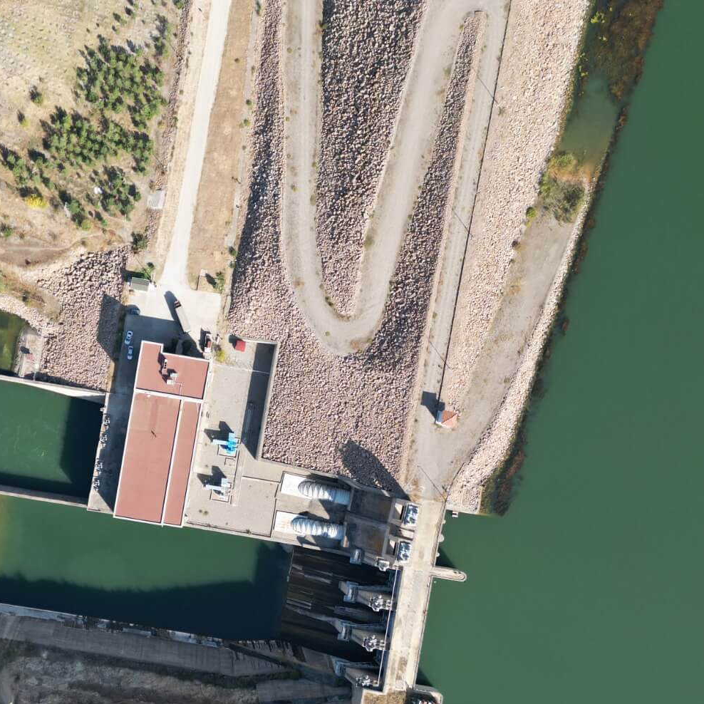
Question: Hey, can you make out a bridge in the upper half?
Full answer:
No, there's no bridge to be seen in the upper half.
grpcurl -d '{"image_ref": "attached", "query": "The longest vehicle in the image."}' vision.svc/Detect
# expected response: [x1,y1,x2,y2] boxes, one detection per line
[169,294,192,333]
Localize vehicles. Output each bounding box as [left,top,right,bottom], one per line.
[169,294,192,333]
[128,307,141,315]
[125,330,133,344]
[127,345,133,360]
[204,331,213,352]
